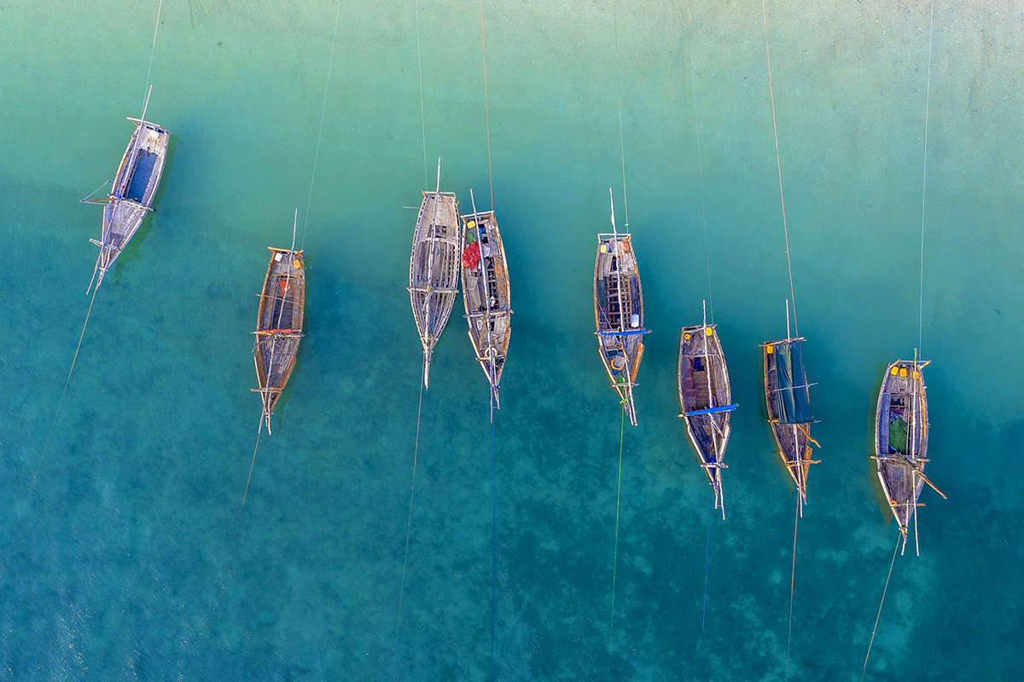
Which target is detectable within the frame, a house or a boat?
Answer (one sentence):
The image shows a boat.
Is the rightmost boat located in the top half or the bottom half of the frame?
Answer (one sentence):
Seen from above, the rightmost boat lies in the bottom half of the view.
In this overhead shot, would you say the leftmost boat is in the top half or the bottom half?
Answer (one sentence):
The leftmost boat is in the top half of the image.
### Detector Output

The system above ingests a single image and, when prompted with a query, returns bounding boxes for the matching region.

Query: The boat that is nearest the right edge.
[869,349,932,556]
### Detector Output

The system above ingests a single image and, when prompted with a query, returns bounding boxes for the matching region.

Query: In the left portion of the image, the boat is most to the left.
[81,85,177,294]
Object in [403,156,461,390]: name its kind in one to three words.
boat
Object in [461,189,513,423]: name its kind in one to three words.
boat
